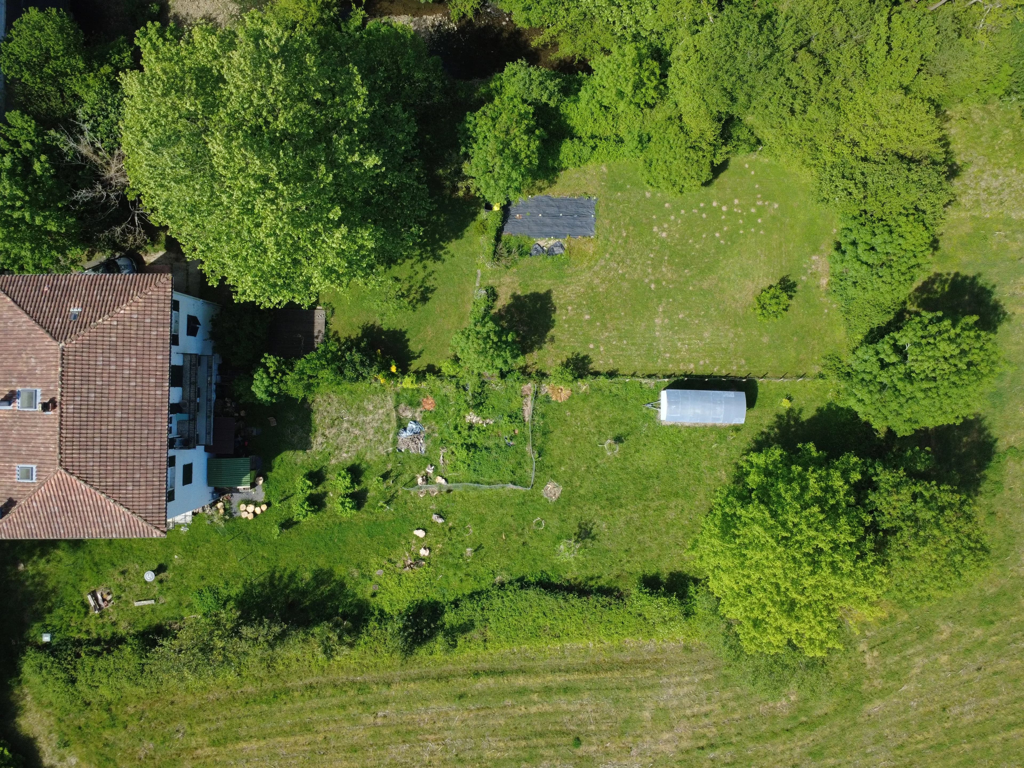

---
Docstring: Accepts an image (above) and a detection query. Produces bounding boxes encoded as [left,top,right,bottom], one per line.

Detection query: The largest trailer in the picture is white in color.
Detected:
[645,390,748,424]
